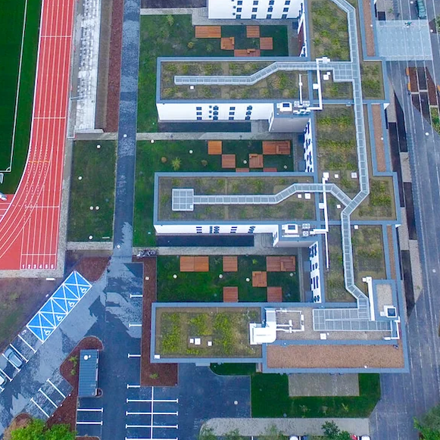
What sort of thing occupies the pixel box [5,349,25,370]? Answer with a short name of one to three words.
car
